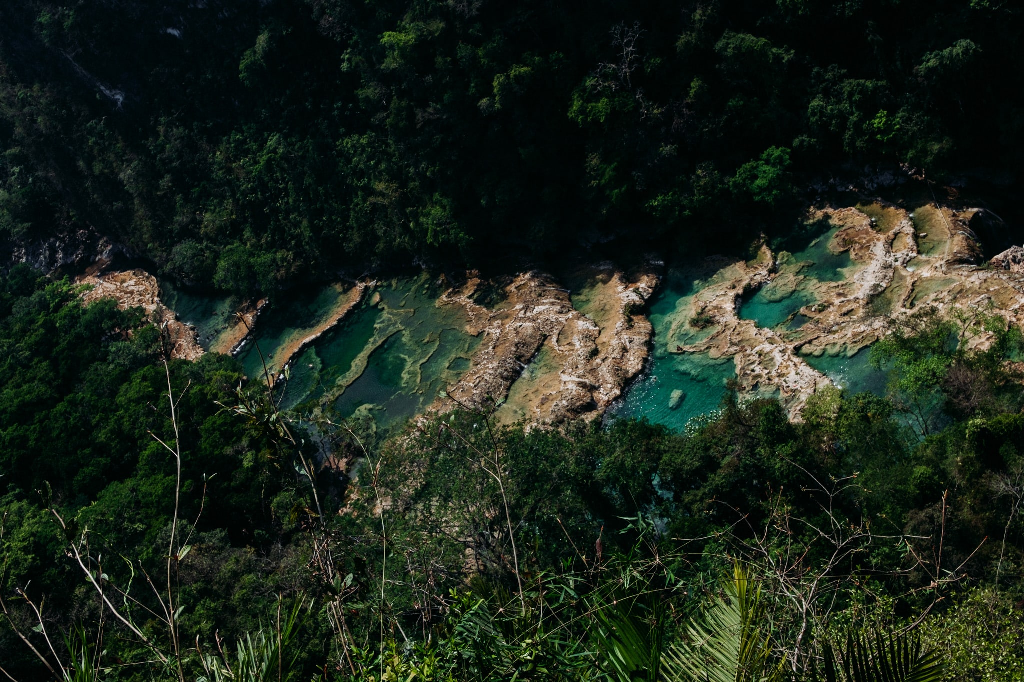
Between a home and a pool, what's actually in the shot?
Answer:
pool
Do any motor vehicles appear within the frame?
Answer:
No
